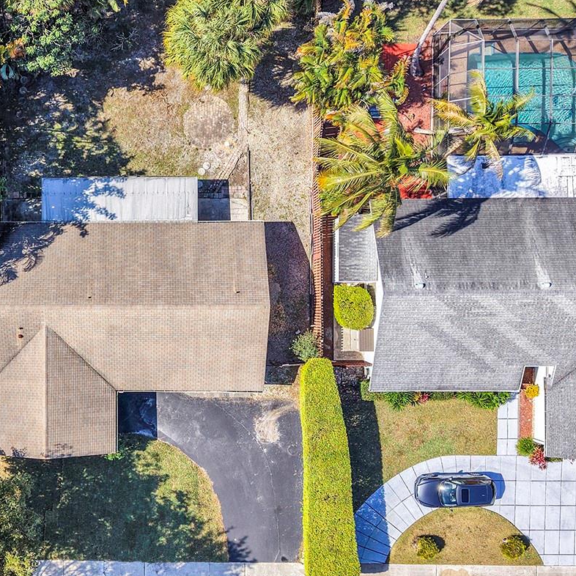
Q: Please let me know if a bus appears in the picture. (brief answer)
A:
No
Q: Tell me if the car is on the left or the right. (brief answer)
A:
right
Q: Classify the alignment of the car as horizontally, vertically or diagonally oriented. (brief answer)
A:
horizontally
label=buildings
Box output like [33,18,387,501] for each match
[369,155,576,462]
[0,221,269,458]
